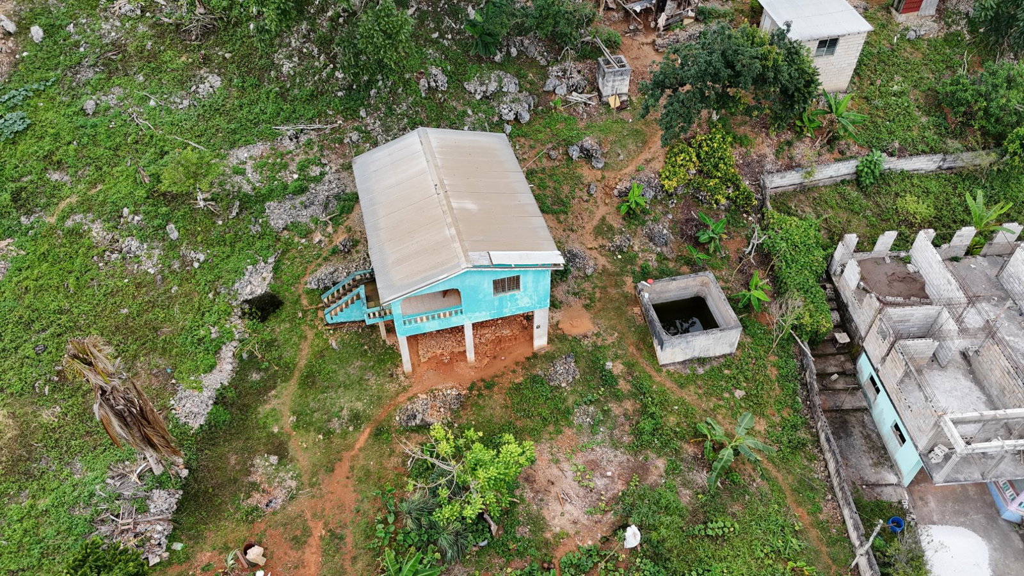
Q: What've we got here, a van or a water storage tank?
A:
water storage tank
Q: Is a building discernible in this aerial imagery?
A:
Yes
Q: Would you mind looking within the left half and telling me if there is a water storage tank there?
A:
No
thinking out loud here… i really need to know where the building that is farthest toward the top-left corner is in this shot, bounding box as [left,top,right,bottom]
[321,128,566,373]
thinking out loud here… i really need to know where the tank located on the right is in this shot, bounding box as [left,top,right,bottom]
[635,272,741,369]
